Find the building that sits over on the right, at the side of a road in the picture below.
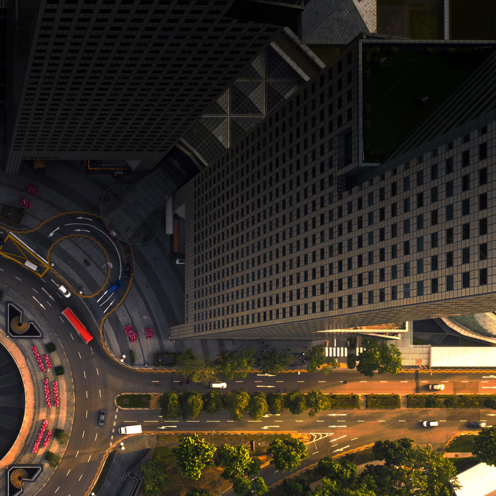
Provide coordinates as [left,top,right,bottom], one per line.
[170,14,496,341]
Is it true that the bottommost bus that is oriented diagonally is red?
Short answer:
Yes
